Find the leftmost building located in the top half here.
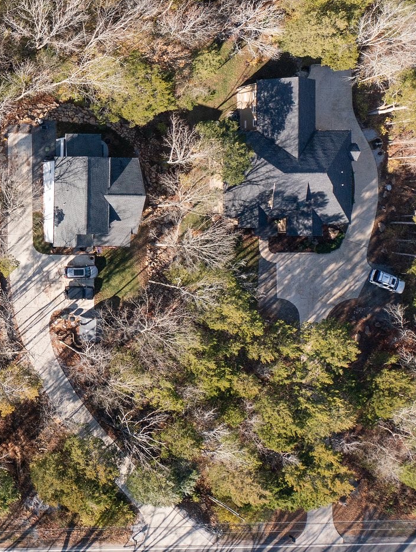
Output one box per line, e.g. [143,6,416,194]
[43,134,146,247]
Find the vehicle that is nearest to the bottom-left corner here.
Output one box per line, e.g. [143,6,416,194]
[59,282,94,299]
